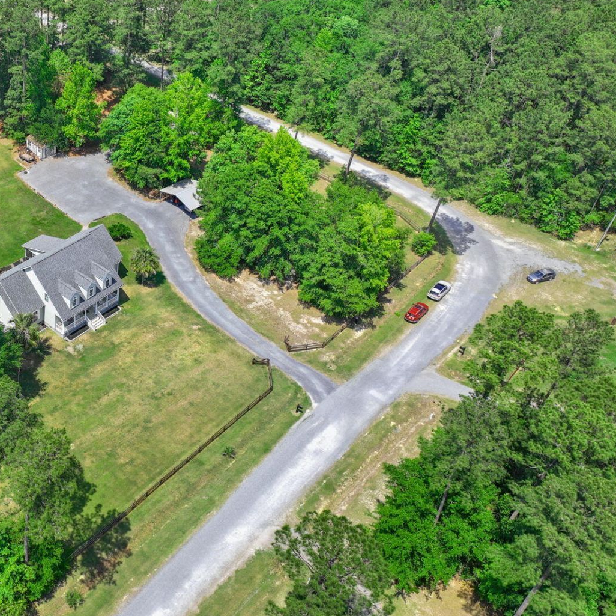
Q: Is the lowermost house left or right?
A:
left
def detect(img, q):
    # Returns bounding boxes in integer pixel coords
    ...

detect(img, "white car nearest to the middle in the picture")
[427,280,453,302]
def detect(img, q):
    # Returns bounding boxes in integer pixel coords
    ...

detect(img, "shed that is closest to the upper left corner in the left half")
[27,132,59,159]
